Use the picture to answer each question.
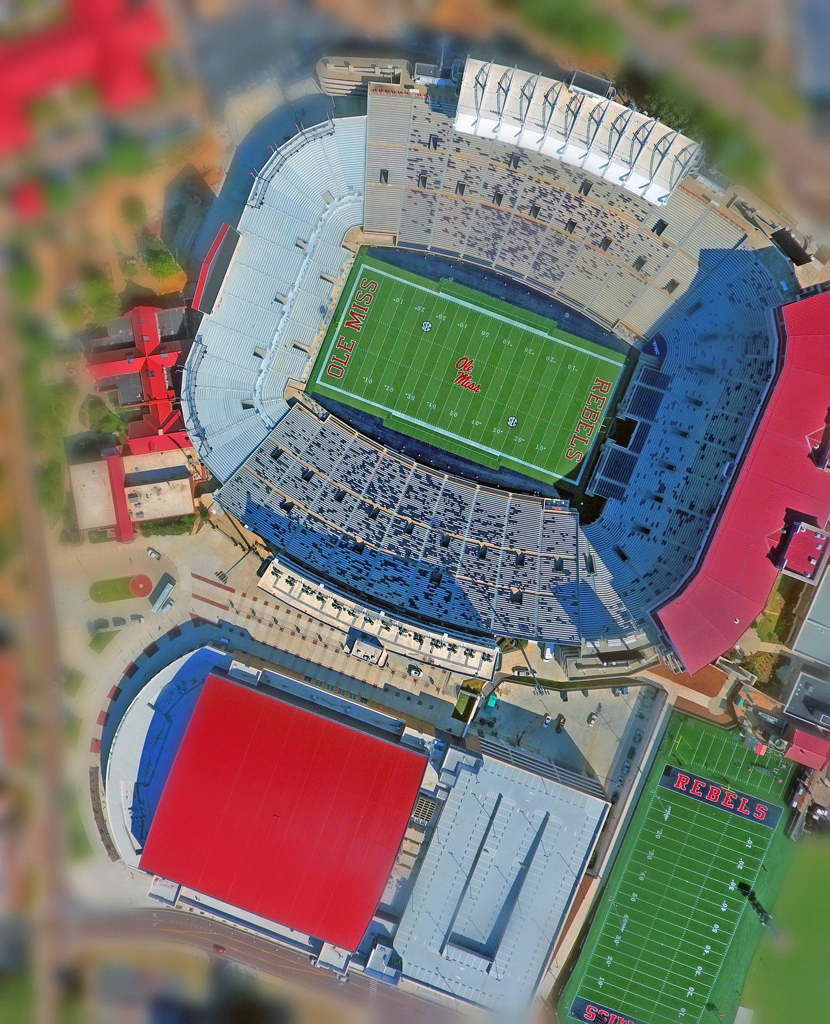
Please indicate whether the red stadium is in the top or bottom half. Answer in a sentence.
You can find the red stadium in the bottom half.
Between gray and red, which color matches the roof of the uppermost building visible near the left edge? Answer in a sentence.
From above, the roof of the uppermost building visible near the left edge appears red.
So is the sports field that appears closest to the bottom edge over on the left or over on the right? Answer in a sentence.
The sports field that appears closest to the bottom edge is on the right side of the image.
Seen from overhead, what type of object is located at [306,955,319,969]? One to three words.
vehicle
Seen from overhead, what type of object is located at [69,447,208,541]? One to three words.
building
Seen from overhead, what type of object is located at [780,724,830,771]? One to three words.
shed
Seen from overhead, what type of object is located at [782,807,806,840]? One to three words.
shed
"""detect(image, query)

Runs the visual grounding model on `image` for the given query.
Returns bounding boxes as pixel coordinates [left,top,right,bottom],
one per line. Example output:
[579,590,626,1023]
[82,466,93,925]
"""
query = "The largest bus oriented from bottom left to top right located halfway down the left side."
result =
[149,583,173,616]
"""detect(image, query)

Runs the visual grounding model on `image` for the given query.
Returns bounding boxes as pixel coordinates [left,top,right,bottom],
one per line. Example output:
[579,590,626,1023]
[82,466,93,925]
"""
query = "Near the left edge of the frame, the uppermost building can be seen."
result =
[0,0,183,175]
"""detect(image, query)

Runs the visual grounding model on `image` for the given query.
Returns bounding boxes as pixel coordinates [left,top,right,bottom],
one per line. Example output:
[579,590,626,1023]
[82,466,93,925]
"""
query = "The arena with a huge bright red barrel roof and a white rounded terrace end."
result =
[105,632,443,976]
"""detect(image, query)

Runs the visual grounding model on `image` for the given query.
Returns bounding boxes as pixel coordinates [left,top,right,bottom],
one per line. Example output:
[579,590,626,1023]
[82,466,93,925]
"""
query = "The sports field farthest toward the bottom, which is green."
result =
[557,714,795,1024]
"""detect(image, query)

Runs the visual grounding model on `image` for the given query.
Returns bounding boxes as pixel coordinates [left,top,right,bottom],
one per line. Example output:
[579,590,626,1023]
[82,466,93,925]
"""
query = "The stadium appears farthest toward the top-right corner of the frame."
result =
[178,51,830,683]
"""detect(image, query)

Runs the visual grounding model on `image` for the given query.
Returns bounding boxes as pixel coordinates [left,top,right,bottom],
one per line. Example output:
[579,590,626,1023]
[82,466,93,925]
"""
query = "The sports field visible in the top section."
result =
[301,246,643,495]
